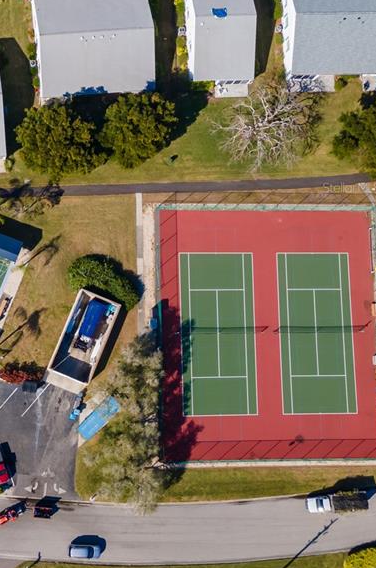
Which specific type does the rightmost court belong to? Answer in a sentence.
What you see as the rightmost court is a tennis court.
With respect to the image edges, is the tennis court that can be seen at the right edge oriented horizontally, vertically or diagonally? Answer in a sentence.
In this picture, the tennis court that can be seen at the right edge lies vertically.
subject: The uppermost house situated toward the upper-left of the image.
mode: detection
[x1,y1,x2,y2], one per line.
[31,0,155,101]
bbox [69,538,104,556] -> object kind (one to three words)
car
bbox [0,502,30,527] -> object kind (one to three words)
work vehicle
